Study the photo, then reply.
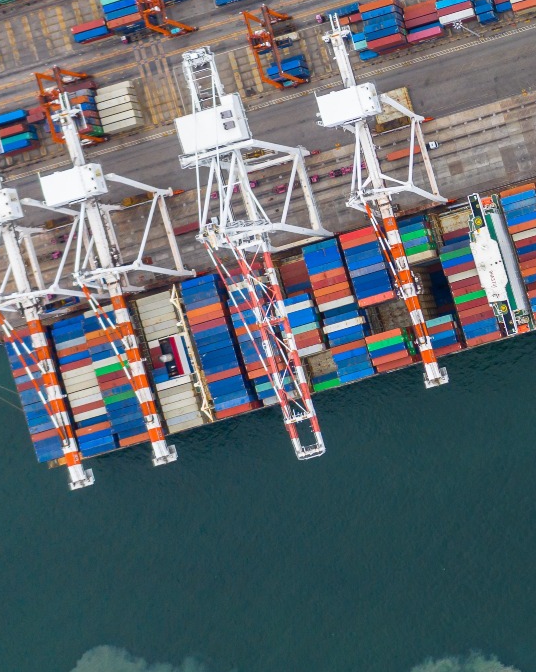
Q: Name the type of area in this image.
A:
port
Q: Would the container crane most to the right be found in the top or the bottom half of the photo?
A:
top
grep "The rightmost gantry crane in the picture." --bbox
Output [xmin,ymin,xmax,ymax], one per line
[313,13,462,387]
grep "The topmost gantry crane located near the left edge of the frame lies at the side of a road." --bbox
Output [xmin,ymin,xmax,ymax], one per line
[24,63,97,145]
